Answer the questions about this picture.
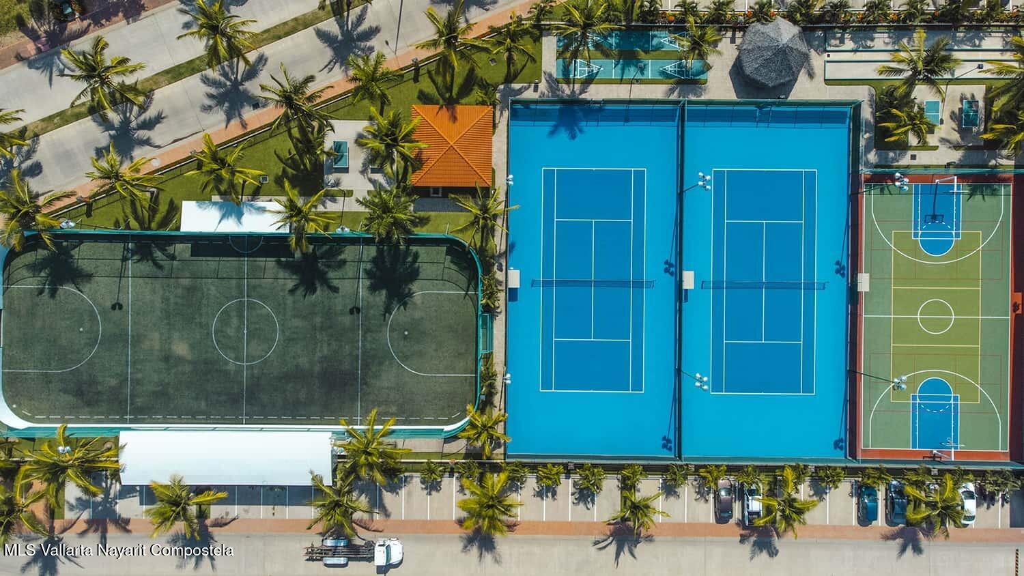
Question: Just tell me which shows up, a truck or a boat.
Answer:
truck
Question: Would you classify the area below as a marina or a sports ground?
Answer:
sports ground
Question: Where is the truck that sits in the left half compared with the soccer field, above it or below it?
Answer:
below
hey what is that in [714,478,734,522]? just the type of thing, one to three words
car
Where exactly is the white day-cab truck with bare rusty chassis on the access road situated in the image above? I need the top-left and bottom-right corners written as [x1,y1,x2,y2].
[306,536,408,569]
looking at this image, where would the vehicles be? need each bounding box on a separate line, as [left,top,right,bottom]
[955,481,979,526]
[306,536,408,569]
[886,480,909,525]
[714,478,734,522]
[858,484,880,523]
[742,477,763,527]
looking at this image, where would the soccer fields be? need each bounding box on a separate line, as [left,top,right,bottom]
[1,236,489,426]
